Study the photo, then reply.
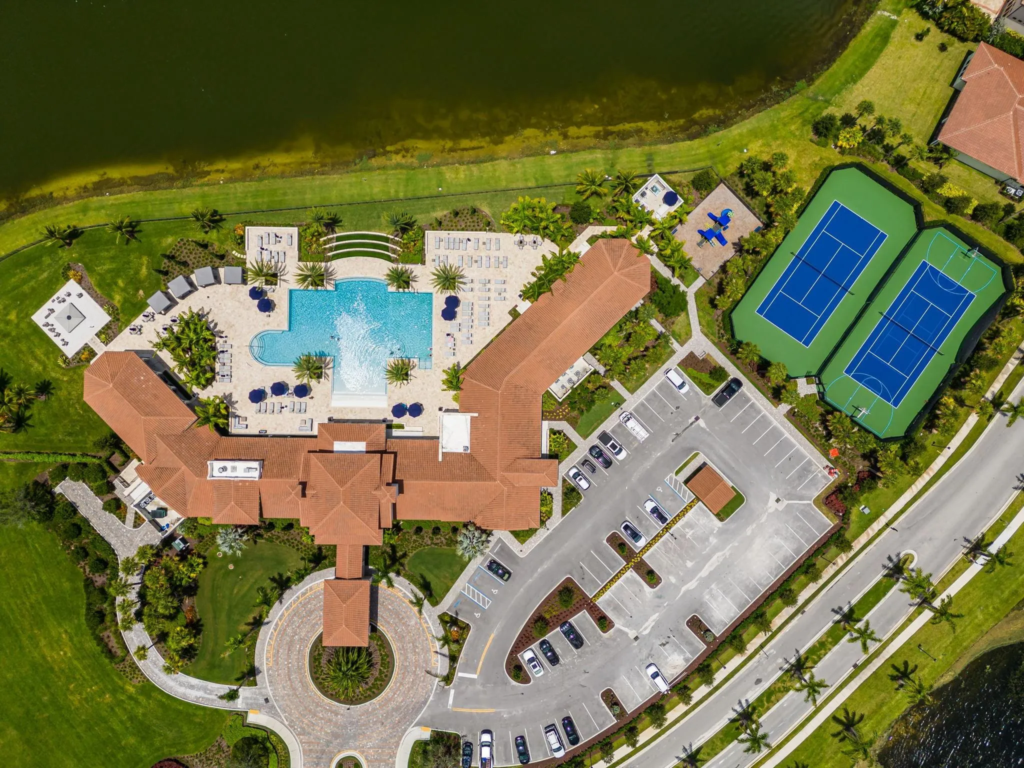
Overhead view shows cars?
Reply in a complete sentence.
Yes, a car can be made out from above.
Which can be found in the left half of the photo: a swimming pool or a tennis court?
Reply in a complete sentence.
It is a swimming pool that can be seen in the left half of the photo.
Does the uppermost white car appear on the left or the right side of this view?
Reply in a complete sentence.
The uppermost white car is on the right side of the image.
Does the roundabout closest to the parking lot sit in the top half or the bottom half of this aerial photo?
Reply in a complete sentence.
The roundabout closest to the parking lot is in the bottom half of the image.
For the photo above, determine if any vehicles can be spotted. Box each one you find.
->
[711,377,743,409]
[567,465,593,492]
[539,638,561,668]
[479,730,494,767]
[620,520,644,547]
[561,621,583,650]
[645,662,672,695]
[581,460,596,474]
[643,499,669,526]
[618,410,653,444]
[524,648,544,677]
[587,444,614,470]
[596,430,628,461]
[514,733,530,763]
[546,724,564,755]
[487,557,513,583]
[562,715,579,744]
[461,741,474,768]
[662,367,690,395]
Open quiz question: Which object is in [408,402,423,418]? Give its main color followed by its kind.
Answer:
blue umbrella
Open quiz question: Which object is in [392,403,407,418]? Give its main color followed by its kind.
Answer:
blue umbrella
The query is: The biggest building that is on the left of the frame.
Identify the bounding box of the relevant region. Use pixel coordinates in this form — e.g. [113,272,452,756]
[83,238,651,647]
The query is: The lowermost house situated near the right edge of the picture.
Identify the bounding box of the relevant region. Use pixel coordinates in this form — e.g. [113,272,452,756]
[930,42,1024,193]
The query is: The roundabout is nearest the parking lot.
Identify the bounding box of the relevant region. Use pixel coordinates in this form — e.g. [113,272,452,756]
[264,575,440,768]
